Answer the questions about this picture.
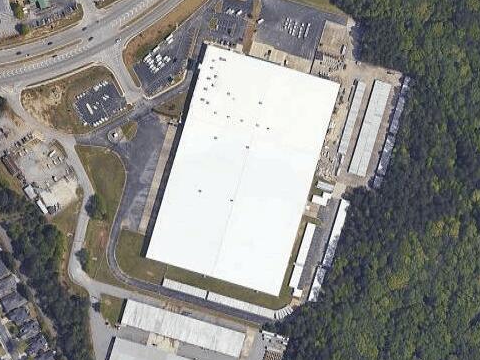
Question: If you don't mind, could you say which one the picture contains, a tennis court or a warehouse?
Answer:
warehouse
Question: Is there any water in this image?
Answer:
No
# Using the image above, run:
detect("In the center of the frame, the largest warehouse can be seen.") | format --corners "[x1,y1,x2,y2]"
[146,44,340,297]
